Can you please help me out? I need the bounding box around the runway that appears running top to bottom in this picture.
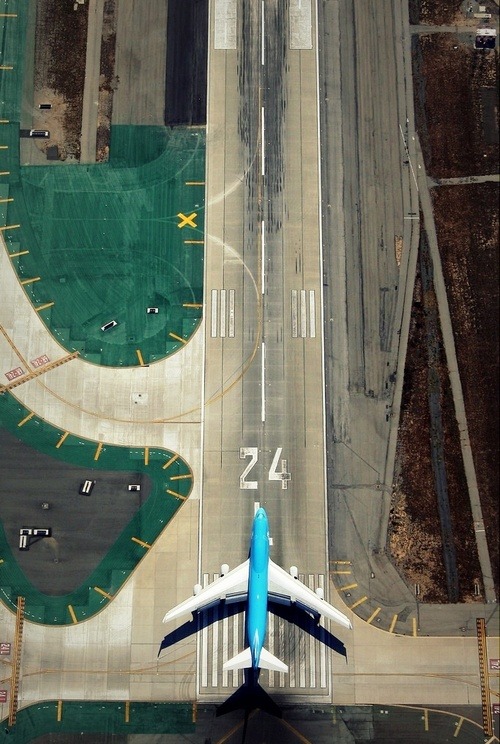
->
[180,0,334,704]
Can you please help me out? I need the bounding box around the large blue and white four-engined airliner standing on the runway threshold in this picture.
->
[161,508,350,672]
